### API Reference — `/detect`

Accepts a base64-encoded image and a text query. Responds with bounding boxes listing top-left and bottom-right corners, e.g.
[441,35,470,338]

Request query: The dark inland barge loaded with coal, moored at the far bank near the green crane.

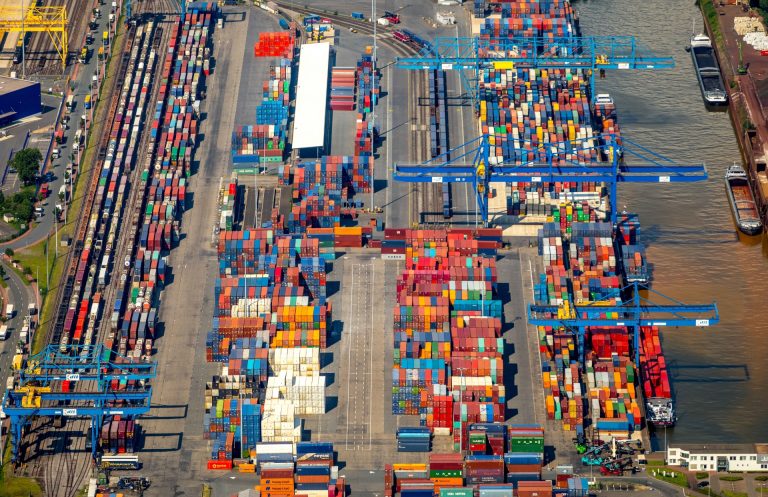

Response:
[687,22,727,109]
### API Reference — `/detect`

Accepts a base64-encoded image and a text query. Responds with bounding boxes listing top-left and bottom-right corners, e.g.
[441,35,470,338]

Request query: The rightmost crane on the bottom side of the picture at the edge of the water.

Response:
[525,271,720,391]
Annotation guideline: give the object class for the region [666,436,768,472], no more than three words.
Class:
building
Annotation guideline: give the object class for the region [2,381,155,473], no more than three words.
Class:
container crane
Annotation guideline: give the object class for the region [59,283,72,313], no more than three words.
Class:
rail car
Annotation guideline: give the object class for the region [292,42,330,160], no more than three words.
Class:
shed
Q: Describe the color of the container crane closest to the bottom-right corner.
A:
blue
